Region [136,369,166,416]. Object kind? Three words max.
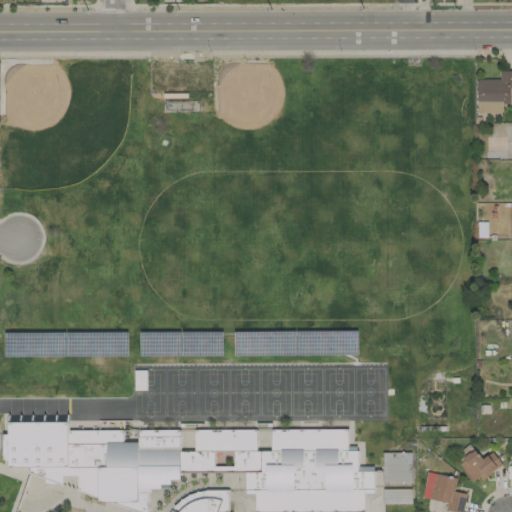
basketball court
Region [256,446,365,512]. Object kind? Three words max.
building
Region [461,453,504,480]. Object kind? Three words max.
house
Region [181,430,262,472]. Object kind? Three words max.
building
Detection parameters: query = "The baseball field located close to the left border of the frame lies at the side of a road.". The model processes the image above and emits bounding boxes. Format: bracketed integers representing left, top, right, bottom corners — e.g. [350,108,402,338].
[2,59,132,191]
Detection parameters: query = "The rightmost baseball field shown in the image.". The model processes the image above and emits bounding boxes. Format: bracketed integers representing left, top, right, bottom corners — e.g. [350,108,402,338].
[216,60,285,130]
